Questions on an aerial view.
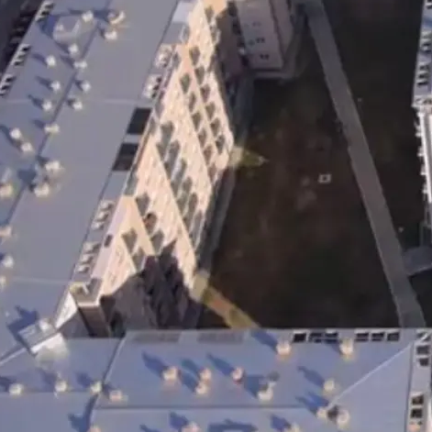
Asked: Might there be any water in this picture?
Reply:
No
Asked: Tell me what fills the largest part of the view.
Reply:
buildings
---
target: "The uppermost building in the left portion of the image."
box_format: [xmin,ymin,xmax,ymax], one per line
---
[0,0,242,335]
